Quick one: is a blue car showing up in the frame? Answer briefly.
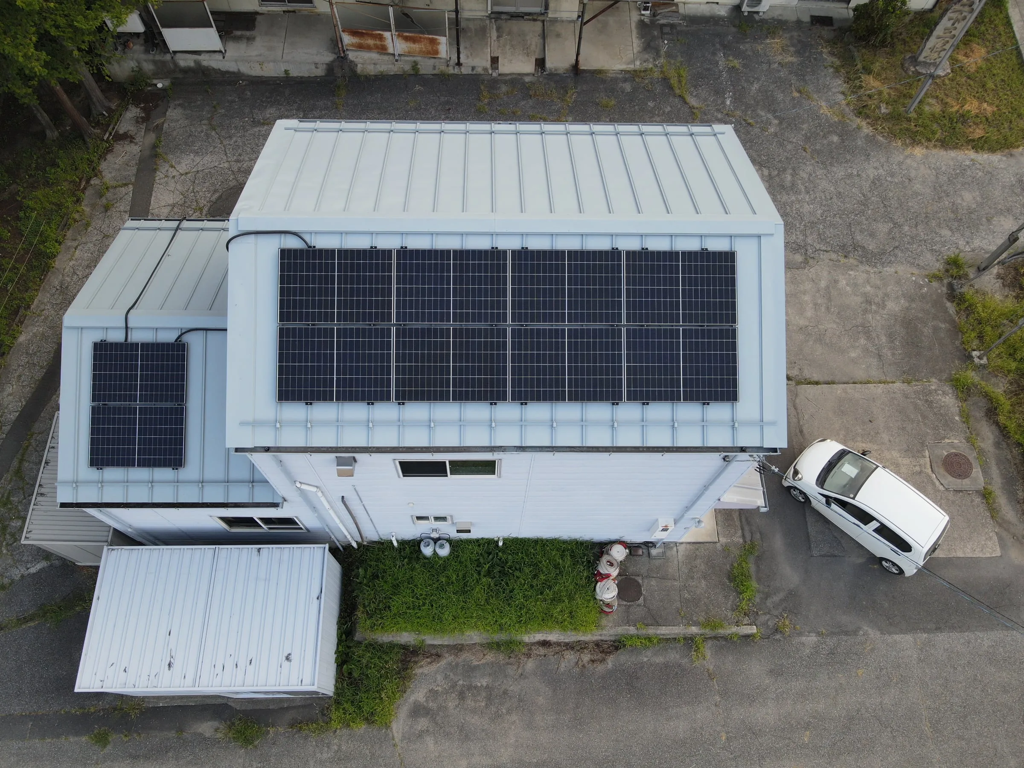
No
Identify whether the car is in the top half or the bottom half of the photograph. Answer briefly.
bottom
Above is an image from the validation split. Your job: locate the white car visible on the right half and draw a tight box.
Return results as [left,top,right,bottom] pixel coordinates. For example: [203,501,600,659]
[785,439,951,577]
